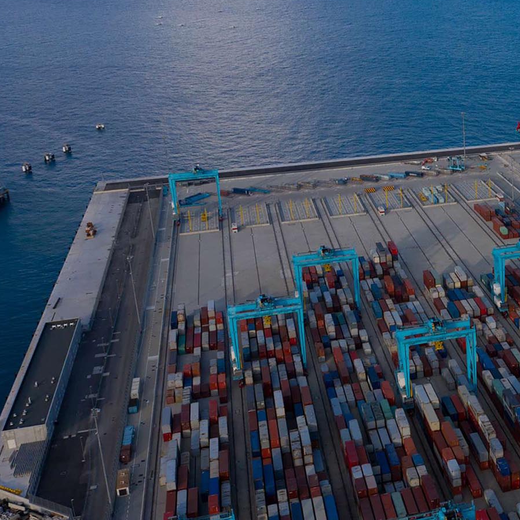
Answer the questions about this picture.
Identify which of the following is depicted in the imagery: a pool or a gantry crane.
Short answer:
gantry crane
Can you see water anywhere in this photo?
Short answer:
Yes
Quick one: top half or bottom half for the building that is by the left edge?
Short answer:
bottom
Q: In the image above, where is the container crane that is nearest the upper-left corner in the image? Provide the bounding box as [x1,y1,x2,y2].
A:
[169,162,222,226]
